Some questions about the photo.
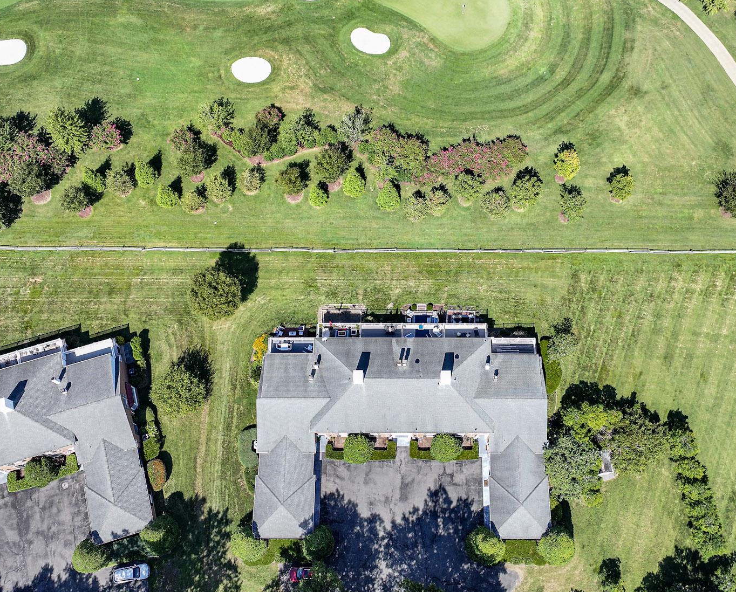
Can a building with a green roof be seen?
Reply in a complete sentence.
No, there is no building with a green roof in the image.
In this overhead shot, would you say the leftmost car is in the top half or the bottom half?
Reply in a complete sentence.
The leftmost car sits in the bottom half of the picture.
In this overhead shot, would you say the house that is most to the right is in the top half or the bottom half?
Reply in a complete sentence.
The house that is most to the right sits in the bottom half of the picture.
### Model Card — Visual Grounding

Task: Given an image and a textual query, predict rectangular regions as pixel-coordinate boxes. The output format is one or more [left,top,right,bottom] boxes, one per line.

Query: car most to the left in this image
[110,563,150,584]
